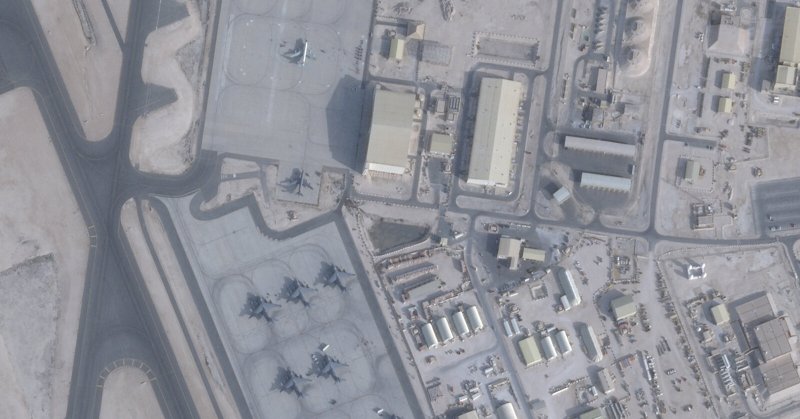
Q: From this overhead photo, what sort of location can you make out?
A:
airport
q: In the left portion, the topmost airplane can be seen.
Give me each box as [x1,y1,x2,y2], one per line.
[291,41,320,65]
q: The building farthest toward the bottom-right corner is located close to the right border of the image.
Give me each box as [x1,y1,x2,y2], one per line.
[753,353,800,399]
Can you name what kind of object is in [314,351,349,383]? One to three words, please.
airplane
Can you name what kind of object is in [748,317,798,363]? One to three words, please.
building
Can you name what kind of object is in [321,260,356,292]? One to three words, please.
airplane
